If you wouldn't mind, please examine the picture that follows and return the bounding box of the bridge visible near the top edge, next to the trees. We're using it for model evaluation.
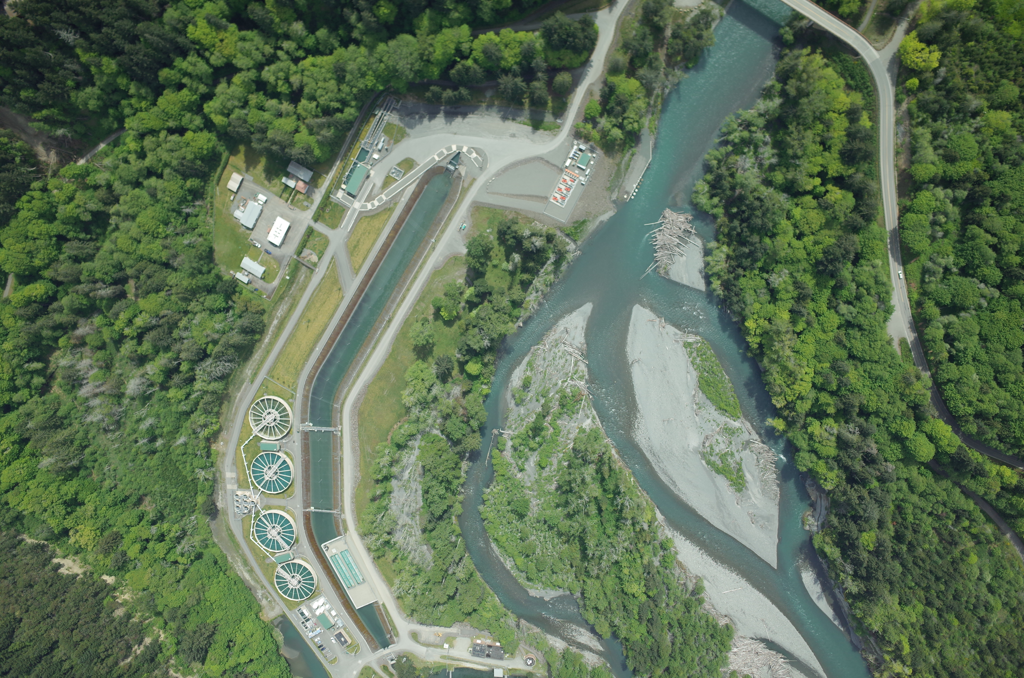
[782,0,871,54]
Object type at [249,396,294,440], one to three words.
storage tank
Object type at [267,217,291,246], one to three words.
building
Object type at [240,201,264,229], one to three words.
building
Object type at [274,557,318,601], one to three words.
storage tank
